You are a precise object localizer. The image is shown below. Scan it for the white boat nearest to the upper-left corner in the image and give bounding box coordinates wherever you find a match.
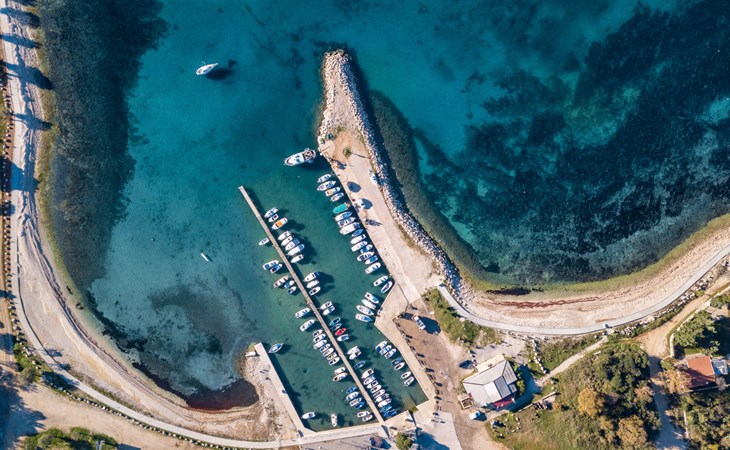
[195,59,217,76]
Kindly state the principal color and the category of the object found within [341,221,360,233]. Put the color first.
white boat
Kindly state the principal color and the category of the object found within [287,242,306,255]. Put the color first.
white boat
